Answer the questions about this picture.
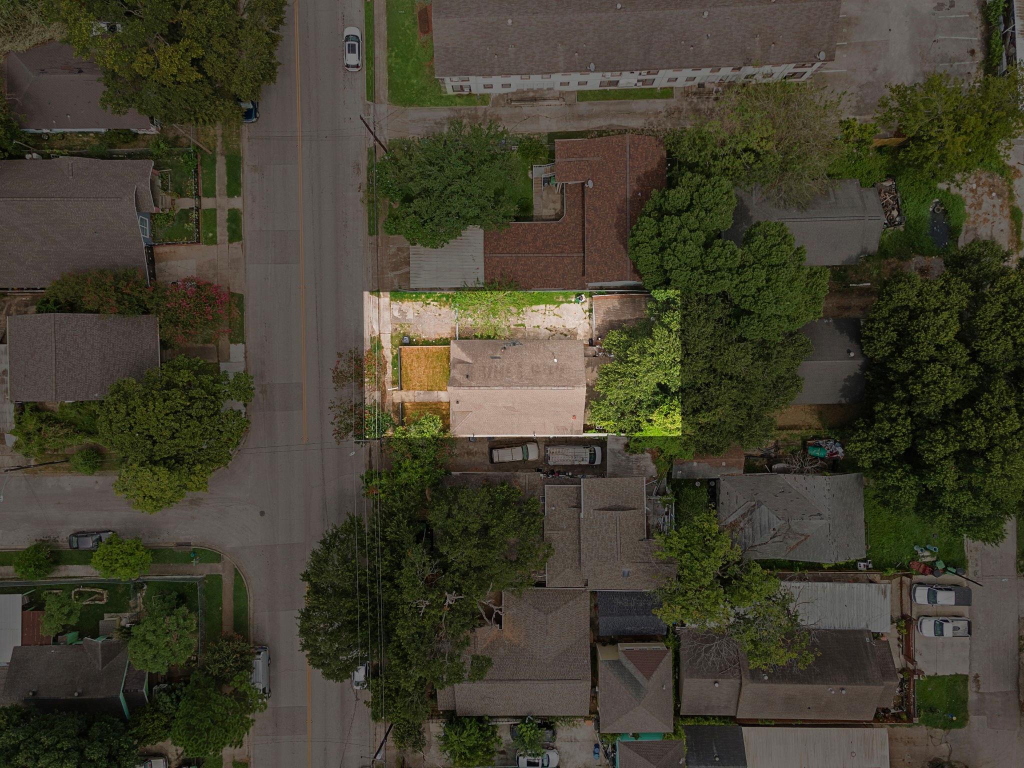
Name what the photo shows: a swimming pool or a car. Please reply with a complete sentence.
There is a car in the scene.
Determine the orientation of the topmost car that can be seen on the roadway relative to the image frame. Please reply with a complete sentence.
Seen from above, the topmost car that can be seen on the roadway lies up and down.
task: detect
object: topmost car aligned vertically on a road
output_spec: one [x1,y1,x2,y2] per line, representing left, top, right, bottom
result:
[341,28,364,75]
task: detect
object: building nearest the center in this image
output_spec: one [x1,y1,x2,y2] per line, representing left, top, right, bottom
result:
[449,341,586,436]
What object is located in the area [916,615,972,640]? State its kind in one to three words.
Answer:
truck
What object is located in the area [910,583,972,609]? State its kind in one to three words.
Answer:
truck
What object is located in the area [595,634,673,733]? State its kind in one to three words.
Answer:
house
